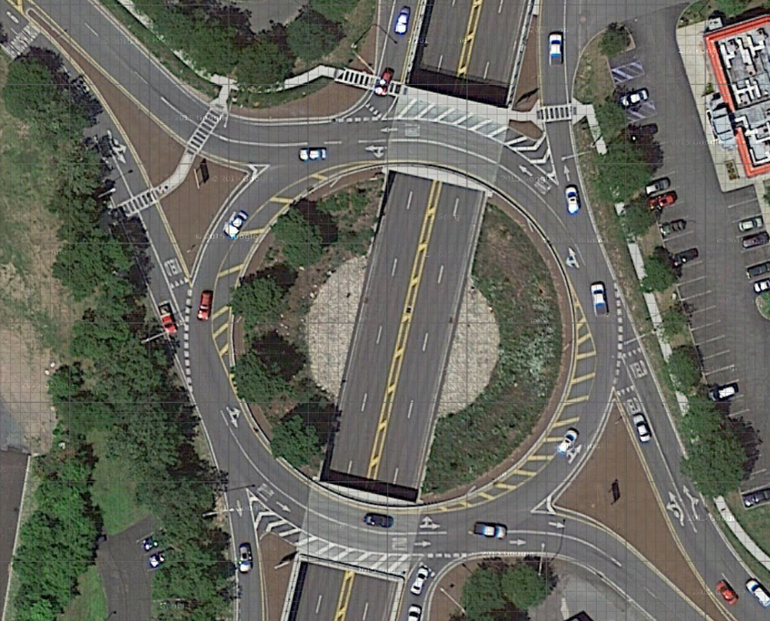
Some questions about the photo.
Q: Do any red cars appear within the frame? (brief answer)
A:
Yes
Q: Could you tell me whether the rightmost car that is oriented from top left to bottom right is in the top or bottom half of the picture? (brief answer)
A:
bottom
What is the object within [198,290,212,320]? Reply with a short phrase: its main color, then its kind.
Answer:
red car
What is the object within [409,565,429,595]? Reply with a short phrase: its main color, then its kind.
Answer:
white car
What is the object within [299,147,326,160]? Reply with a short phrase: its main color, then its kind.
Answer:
white vehicle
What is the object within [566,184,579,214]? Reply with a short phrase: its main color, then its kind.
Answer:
white vehicle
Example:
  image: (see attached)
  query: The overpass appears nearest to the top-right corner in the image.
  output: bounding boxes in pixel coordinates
[386,83,513,192]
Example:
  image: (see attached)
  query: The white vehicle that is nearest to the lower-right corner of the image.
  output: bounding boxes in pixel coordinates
[747,577,770,607]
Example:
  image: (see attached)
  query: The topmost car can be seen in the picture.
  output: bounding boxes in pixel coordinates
[394,6,409,35]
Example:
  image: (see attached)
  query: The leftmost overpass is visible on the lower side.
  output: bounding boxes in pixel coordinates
[296,479,422,580]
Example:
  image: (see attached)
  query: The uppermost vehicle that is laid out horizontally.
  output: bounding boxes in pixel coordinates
[620,89,650,105]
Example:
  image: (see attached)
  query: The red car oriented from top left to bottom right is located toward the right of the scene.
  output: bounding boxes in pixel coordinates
[716,579,738,606]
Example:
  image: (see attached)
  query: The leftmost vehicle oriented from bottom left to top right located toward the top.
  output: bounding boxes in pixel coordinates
[225,208,249,237]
